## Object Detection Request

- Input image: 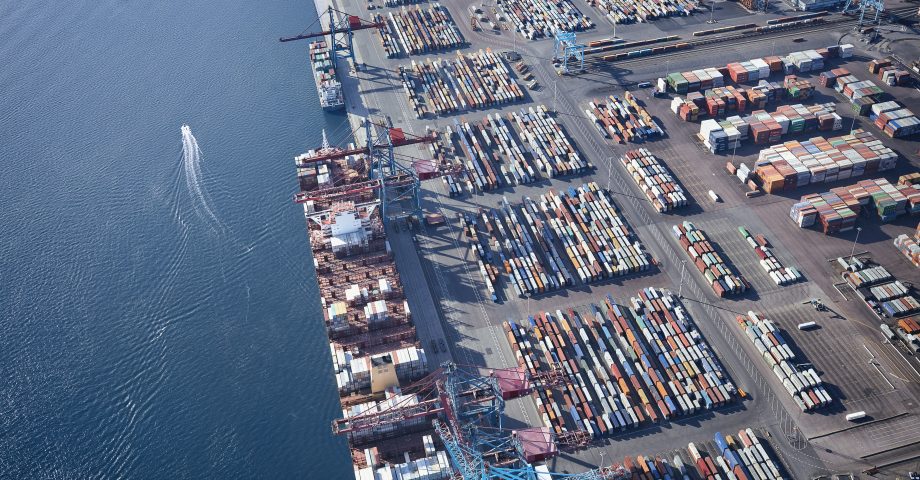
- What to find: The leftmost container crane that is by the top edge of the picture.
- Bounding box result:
[279,2,383,68]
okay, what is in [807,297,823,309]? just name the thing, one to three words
vehicle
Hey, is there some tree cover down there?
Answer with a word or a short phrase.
No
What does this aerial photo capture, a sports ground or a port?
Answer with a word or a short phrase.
port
